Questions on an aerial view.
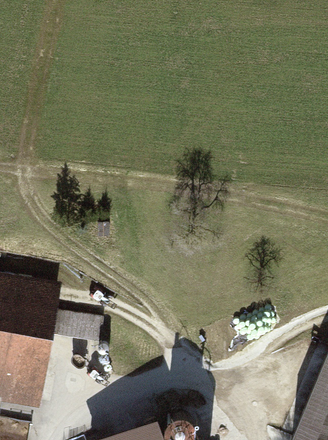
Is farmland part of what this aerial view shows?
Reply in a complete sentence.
Yes, there's farmland in this view.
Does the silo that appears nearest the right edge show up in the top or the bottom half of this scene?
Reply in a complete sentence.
You can find the silo that appears nearest the right edge in the bottom half.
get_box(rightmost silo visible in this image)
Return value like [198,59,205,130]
[164,415,196,440]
